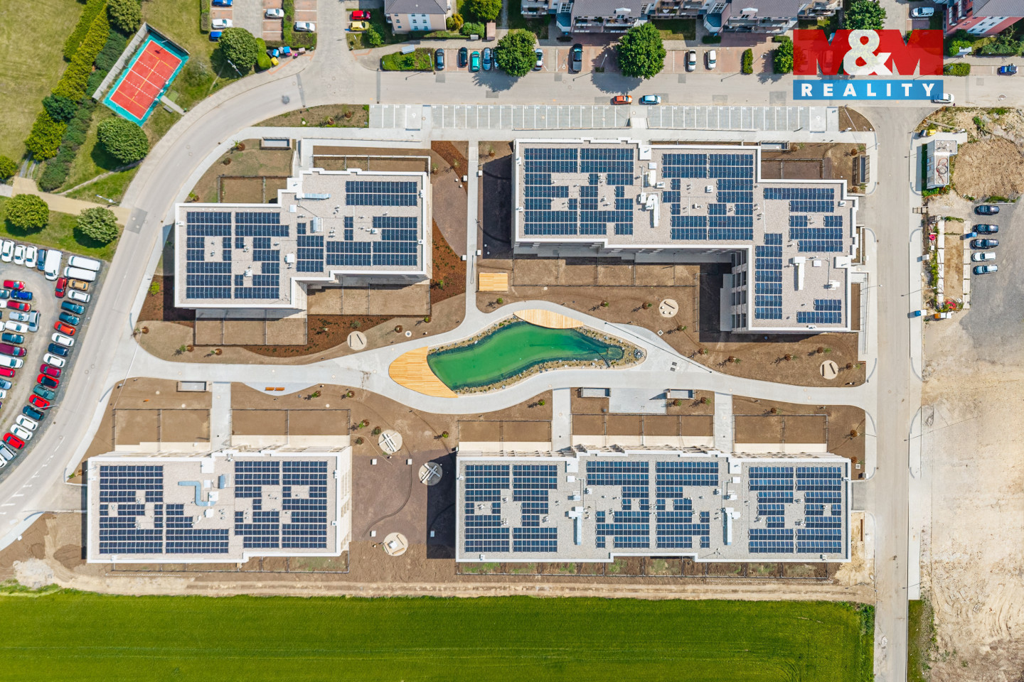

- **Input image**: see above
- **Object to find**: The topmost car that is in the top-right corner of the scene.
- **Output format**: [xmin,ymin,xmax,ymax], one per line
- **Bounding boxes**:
[910,6,934,18]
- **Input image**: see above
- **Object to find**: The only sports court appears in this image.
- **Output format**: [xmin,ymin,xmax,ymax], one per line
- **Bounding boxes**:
[91,23,189,125]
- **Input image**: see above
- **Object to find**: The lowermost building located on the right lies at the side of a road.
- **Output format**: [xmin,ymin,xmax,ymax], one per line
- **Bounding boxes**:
[456,442,851,562]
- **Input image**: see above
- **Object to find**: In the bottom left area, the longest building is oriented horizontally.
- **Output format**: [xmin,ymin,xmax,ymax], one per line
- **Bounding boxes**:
[87,443,353,563]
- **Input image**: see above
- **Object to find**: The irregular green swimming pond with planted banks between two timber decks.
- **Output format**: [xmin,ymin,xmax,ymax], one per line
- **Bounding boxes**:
[428,314,647,398]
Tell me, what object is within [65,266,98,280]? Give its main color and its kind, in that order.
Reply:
white vehicle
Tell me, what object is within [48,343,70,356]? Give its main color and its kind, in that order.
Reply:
blue vehicle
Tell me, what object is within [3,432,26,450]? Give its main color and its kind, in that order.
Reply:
red car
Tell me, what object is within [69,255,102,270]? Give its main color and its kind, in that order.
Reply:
white vehicle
